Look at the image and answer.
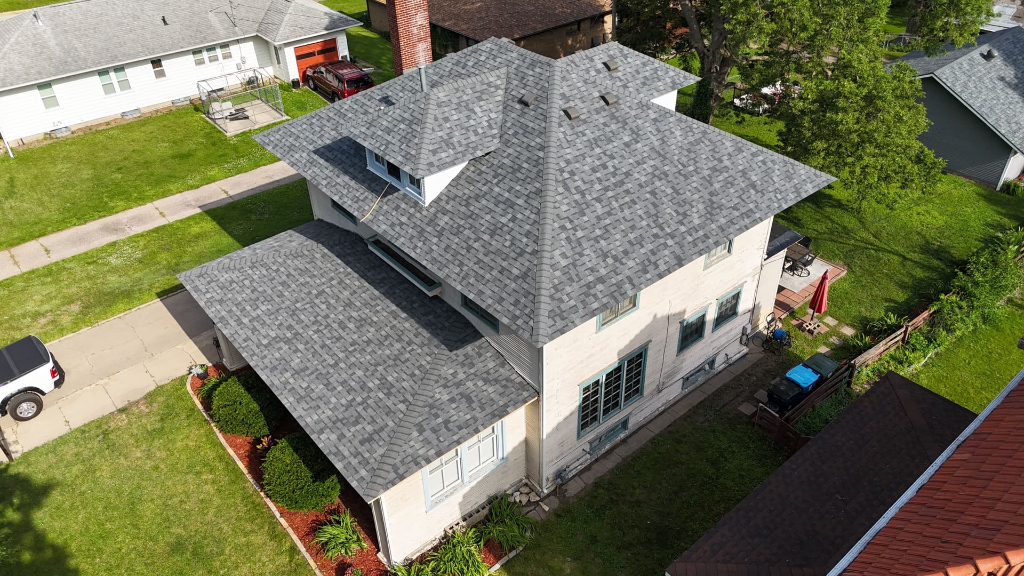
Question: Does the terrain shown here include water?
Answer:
No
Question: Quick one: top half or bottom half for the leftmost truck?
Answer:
bottom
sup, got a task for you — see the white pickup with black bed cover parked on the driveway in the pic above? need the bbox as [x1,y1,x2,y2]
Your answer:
[0,331,76,419]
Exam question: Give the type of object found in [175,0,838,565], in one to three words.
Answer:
house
